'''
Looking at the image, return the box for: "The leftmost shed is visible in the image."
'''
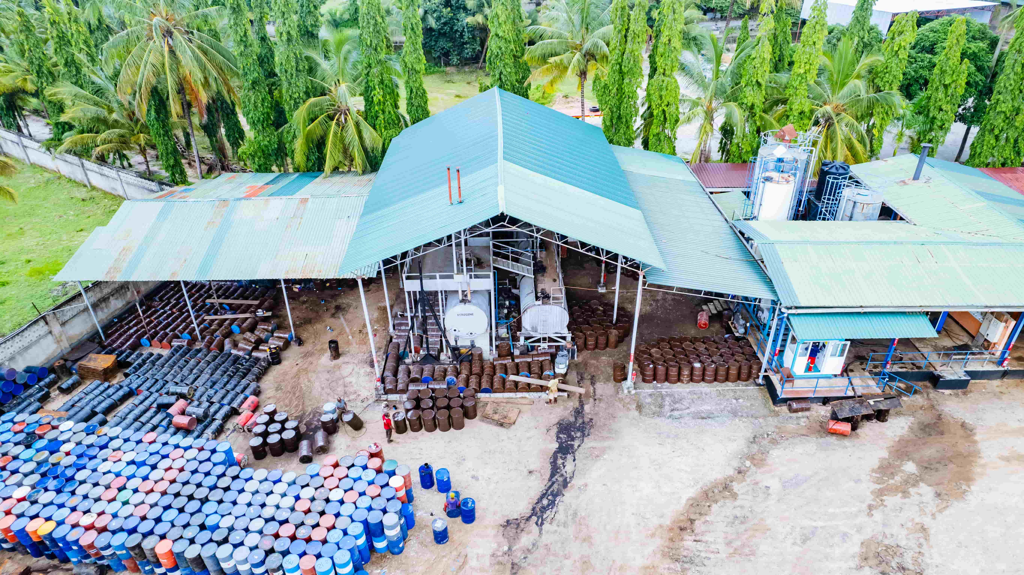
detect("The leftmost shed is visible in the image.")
[54,171,393,341]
